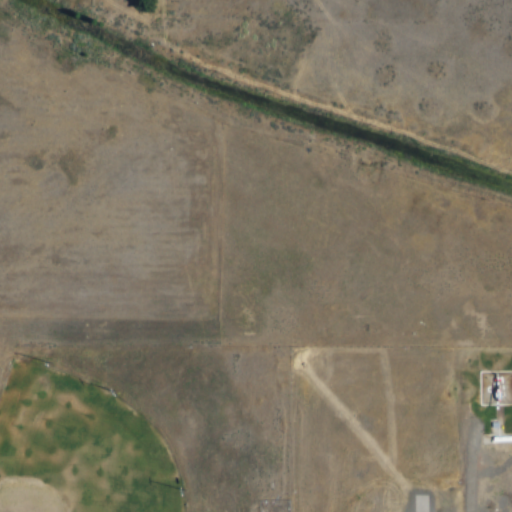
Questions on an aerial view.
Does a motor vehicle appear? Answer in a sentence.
No, there appears to be no motor vehicle in this shot.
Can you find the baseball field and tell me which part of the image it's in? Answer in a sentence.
You can find the baseball field in the bottom left area of the picture.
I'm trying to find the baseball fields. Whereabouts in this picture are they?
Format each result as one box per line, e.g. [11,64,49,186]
[0,354,184,512]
